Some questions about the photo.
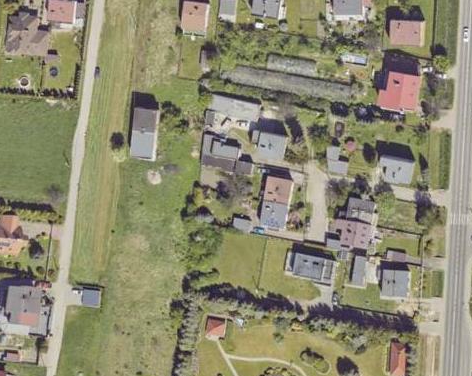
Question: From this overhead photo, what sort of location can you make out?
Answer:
residential area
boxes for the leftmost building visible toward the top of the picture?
[6,12,50,57]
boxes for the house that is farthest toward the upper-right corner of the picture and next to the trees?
[390,20,426,49]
